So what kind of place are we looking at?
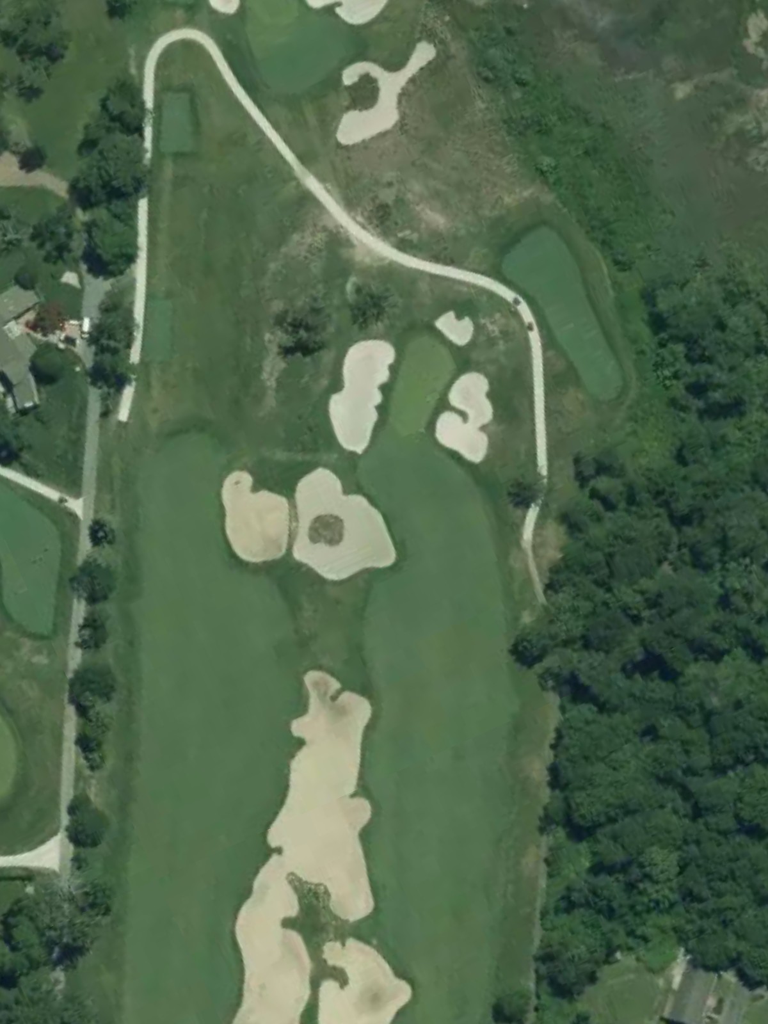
golf course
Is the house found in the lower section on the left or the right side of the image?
right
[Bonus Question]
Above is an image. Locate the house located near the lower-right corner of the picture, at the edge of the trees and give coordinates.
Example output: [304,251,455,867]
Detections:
[669,965,719,1024]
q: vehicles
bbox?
[528,322,533,330]
[58,497,66,504]
[81,315,89,337]
[64,336,76,344]
[514,297,521,305]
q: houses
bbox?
[0,284,41,408]
[669,965,719,1024]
